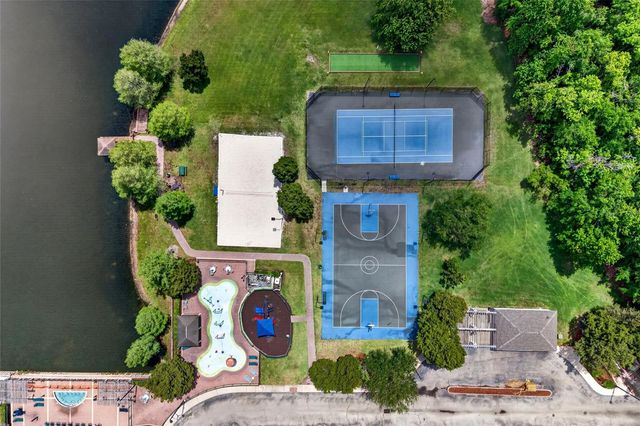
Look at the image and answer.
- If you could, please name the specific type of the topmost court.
tennis court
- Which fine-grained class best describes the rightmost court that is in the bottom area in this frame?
basketball court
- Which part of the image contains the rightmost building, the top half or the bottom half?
bottom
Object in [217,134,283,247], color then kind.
white sports court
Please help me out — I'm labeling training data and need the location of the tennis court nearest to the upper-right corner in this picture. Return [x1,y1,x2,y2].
[307,92,484,179]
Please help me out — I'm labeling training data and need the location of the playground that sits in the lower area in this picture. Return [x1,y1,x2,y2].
[240,289,292,358]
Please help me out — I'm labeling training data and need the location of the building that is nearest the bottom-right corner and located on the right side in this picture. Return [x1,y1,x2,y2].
[490,307,557,351]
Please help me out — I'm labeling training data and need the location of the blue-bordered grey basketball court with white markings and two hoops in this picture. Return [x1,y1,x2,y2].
[322,192,419,339]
